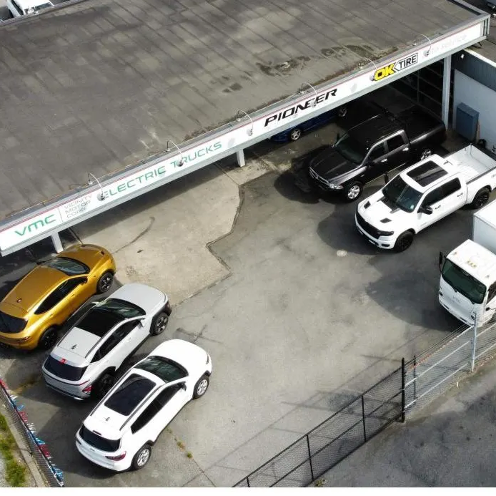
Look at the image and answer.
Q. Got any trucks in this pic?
Yes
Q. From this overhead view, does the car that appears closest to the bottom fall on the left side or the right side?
left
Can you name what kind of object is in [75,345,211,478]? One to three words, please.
car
